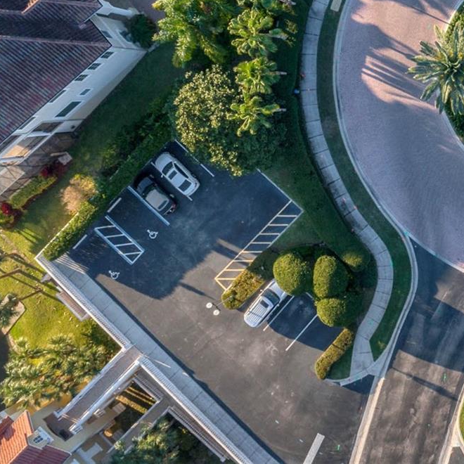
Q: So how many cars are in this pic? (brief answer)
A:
3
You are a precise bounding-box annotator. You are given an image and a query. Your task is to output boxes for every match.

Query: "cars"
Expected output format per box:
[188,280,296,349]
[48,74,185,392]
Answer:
[243,281,285,328]
[156,150,201,198]
[136,172,180,219]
